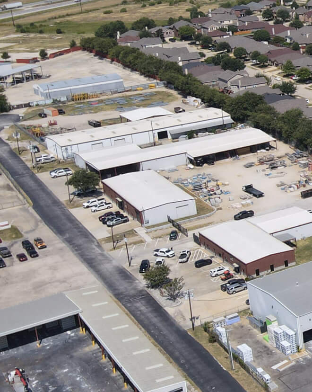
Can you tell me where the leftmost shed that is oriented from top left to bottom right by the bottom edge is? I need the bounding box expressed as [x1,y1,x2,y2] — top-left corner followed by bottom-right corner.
[67,281,184,392]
